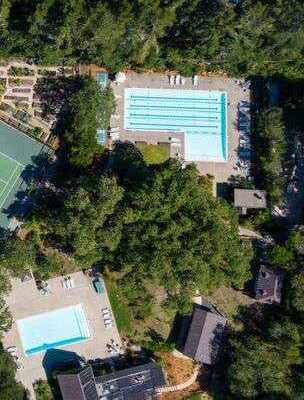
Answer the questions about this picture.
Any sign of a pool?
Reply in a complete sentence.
Yes, there's a pool down there.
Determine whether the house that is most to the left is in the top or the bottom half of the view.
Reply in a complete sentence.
It is in the bottom half that the house that is most to the left appears.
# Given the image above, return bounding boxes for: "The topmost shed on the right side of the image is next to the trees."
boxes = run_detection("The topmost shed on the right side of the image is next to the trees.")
[229,188,266,214]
